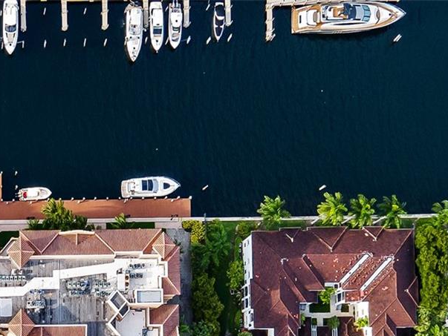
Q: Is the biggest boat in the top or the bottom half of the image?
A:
top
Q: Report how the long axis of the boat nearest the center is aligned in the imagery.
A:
from left to right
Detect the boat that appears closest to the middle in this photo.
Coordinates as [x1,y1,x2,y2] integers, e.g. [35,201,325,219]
[117,177,179,197]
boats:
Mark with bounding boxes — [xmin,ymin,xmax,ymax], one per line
[149,2,162,52]
[212,5,223,42]
[125,1,142,61]
[282,1,407,35]
[167,2,181,50]
[117,177,179,197]
[17,188,51,200]
[2,1,19,56]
